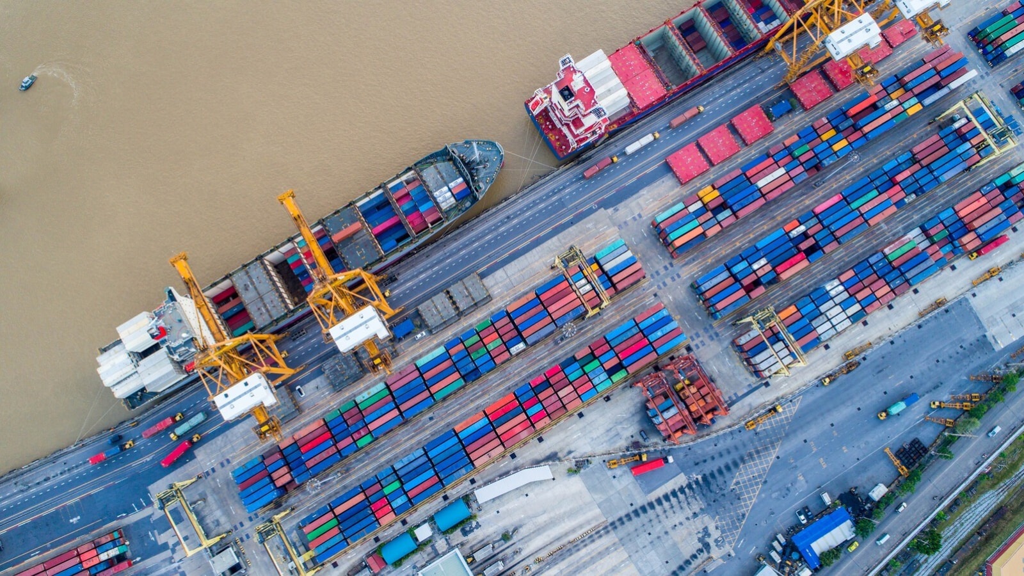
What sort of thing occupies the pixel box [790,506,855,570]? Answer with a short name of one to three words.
building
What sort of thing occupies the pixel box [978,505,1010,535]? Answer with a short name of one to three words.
rail car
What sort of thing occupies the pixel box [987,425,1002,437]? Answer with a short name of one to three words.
vehicle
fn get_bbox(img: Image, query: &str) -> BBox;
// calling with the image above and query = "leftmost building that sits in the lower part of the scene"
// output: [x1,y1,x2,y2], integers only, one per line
[210,541,250,576]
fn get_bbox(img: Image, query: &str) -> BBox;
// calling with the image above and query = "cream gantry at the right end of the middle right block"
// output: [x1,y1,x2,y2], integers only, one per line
[925,94,1019,180]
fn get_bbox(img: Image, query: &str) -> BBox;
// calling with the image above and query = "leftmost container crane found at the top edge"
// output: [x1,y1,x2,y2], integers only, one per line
[749,0,880,95]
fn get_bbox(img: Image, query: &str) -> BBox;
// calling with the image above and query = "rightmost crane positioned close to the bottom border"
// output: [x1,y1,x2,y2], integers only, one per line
[255,502,331,576]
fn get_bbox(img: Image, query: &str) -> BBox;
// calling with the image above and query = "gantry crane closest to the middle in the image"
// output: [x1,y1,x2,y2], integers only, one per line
[548,246,610,325]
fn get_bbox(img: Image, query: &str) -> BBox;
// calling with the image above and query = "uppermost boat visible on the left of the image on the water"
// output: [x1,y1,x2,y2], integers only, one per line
[18,74,40,92]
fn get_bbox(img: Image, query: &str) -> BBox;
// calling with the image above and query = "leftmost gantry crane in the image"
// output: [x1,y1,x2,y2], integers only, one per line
[155,470,238,556]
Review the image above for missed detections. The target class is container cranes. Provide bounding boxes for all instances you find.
[626,370,697,446]
[276,189,407,378]
[749,0,880,95]
[655,352,729,426]
[828,0,951,49]
[727,305,807,382]
[155,470,238,556]
[167,251,310,444]
[925,94,1019,180]
[255,502,331,576]
[548,246,610,325]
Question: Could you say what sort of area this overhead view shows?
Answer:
port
